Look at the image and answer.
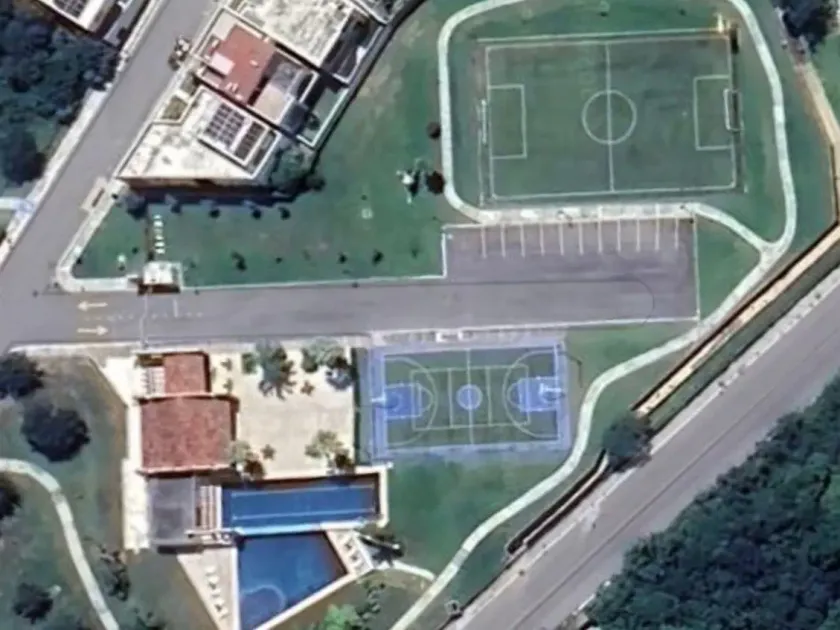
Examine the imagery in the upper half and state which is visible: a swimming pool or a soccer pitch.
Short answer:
soccer pitch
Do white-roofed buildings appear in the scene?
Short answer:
Yes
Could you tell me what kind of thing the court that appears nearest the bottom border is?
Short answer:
basketball court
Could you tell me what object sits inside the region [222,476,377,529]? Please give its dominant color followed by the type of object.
blue swimming pool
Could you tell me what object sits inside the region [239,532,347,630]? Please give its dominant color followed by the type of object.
blue swimming pool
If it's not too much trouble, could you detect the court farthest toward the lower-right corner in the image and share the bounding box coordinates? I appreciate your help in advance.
[368,338,572,463]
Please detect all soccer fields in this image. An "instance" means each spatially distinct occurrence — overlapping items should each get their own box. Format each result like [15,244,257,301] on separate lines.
[478,30,743,206]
